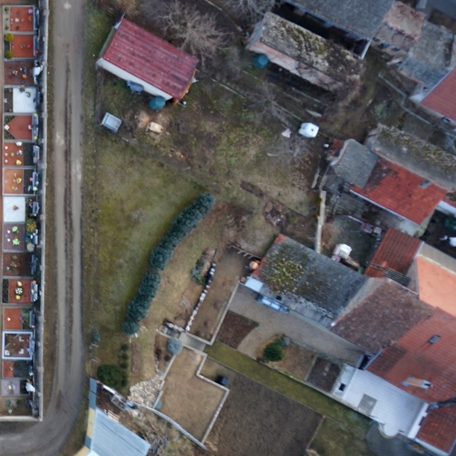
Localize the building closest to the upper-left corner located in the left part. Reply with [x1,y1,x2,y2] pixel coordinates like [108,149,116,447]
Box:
[97,19,198,103]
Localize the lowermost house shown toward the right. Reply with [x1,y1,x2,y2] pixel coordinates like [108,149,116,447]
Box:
[399,400,456,456]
